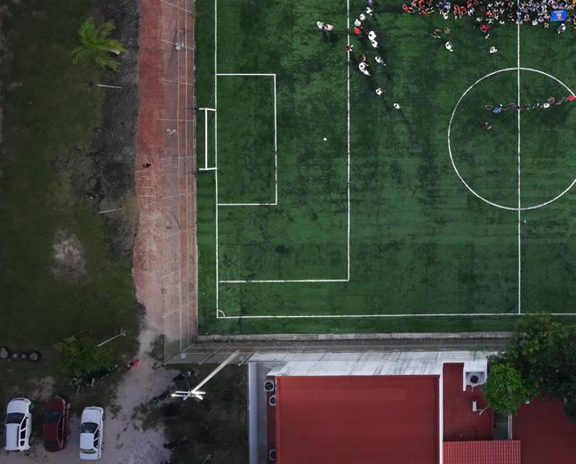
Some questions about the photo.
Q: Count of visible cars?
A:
three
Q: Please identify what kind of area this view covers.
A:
sports ground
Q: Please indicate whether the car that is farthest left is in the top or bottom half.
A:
bottom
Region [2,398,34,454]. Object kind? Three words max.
car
